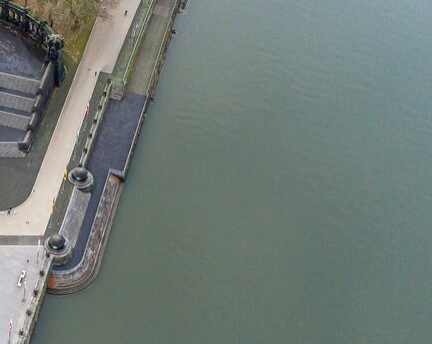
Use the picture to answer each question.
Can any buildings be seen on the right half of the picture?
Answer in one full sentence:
No, the scene shows no building on the right half of the picture.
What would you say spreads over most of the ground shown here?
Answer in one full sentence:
The largest share of the image is taken up by water.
